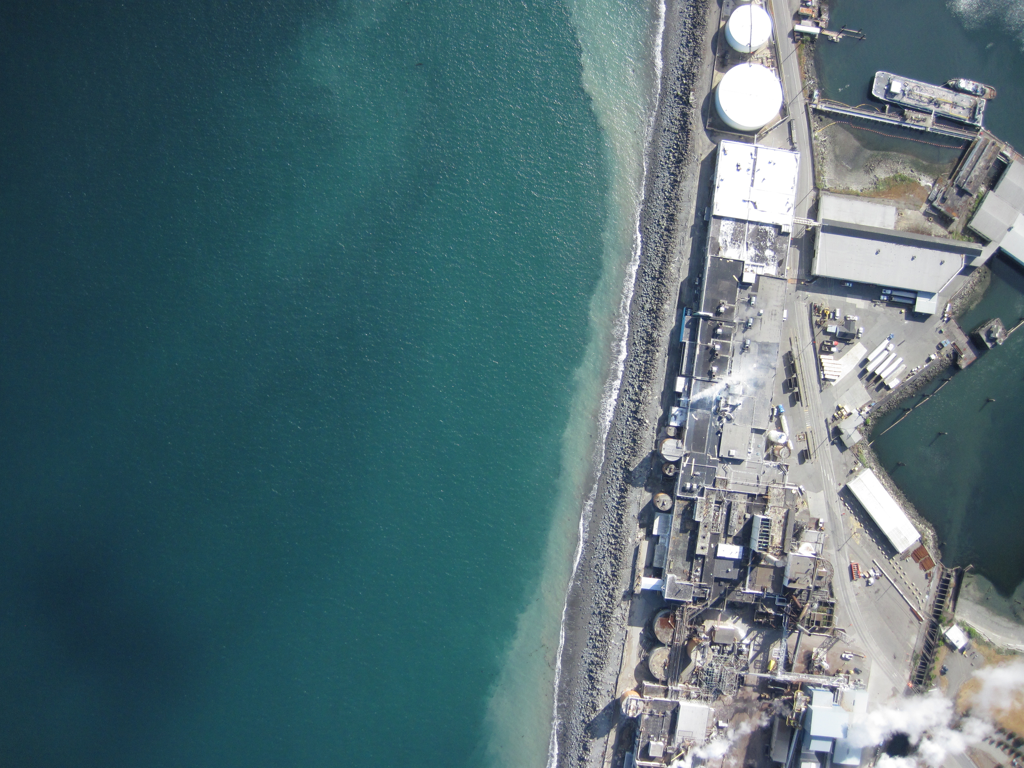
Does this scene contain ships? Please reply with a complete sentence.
Yes, looking at the shot, I can spot a ship.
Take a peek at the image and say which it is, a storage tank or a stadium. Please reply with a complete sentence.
It is a storage tank that can be seen here.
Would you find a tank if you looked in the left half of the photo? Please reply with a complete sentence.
No, no tank appears in the left half of the photo.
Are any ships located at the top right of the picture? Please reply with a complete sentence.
Yes, a ship is visible at the top right of the picture.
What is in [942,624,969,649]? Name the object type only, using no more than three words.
house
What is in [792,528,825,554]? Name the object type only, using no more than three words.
building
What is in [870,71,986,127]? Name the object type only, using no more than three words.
ship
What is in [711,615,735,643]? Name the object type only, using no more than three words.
shed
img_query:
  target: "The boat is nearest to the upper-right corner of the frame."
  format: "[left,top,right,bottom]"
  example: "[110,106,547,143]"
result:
[946,78,997,99]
